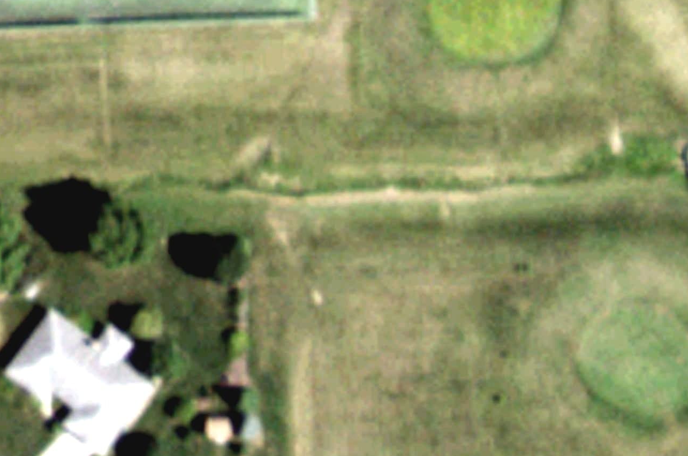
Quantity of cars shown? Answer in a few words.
0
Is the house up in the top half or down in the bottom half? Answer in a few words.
bottom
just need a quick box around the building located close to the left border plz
[5,311,155,456]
